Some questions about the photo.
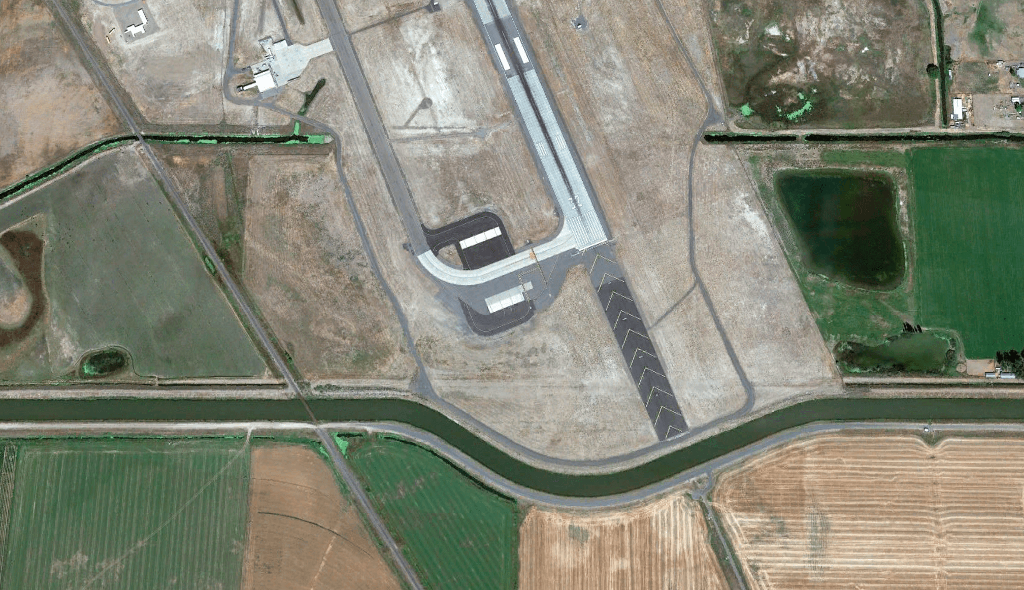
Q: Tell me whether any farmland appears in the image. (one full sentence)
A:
Yes, some farmland is visible.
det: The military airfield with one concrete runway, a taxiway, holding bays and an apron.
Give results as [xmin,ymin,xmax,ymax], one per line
[251,0,688,443]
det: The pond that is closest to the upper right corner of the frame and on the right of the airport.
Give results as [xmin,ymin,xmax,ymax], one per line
[773,169,905,291]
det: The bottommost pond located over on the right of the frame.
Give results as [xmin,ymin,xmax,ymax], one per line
[834,334,948,372]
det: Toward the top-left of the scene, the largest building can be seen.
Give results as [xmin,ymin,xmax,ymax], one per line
[254,70,276,92]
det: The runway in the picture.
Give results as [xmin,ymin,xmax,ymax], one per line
[474,0,607,250]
